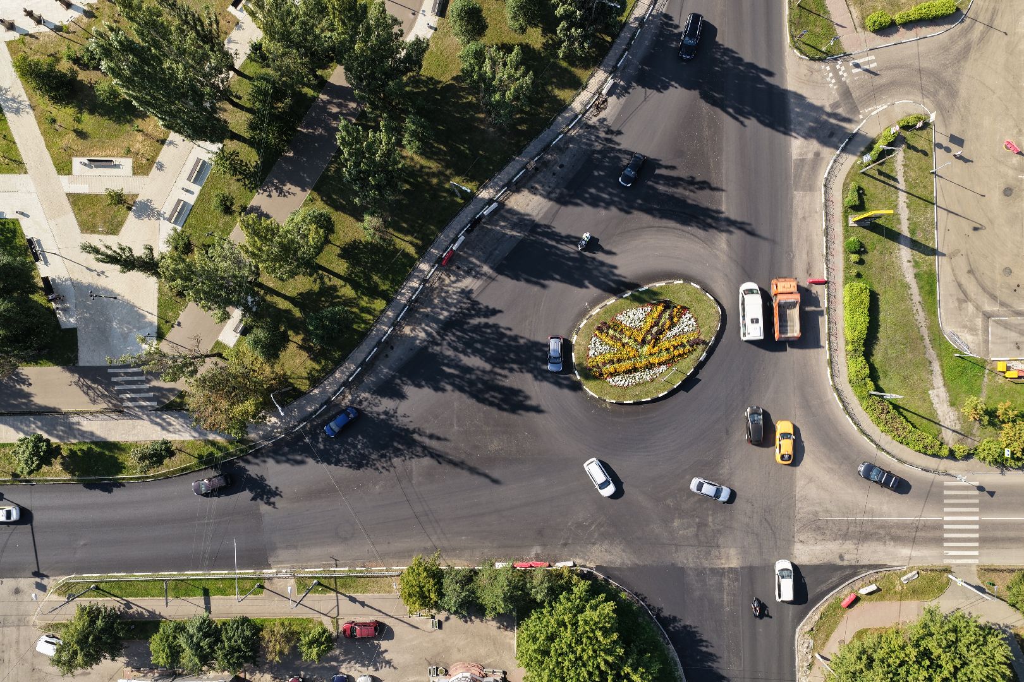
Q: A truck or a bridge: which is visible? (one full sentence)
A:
I can see a truck in this picture.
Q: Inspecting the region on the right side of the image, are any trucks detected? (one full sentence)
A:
Yes, on the right side of the image there is a truck.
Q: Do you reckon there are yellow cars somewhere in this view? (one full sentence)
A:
Yes, the frame does contain a yellow car.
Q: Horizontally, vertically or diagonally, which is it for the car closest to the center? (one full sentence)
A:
In this picture, the car closest to the center is oriented vertically.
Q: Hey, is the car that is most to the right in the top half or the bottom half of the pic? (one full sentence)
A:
The car that is most to the right sits in the bottom half of the picture.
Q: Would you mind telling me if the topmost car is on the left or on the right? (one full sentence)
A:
You can find the topmost car on the right side of the picture.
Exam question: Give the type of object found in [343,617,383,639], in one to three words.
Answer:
car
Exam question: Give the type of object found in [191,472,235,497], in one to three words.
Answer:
car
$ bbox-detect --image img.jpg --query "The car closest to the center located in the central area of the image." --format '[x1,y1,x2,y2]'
[545,334,565,373]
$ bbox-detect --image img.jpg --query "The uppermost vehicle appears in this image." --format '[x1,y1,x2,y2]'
[678,13,703,61]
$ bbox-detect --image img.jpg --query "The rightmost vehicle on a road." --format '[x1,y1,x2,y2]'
[855,460,902,490]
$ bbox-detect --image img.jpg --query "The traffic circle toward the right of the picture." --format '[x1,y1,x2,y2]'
[573,280,722,402]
